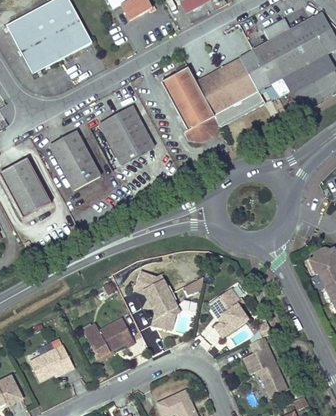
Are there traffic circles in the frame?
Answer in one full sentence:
Yes, looking at the shot, I can spot a traffic circle.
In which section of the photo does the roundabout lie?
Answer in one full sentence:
The roundabout is in the right part of the image.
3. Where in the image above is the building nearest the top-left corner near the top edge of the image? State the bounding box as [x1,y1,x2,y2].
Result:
[5,0,91,74]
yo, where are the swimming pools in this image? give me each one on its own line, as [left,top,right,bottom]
[175,316,192,335]
[246,392,258,410]
[230,330,250,346]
